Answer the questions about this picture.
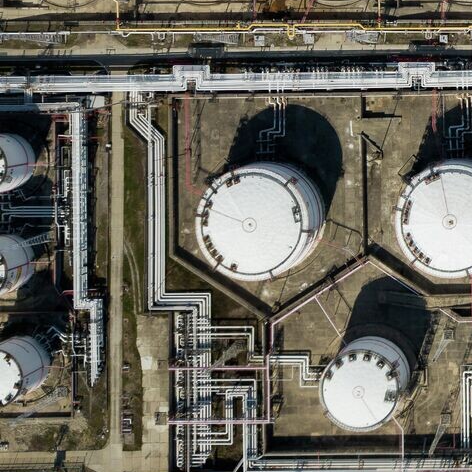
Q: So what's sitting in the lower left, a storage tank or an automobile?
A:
storage tank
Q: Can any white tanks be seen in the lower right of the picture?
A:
Yes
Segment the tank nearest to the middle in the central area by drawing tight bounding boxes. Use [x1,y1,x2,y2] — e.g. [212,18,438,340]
[194,156,330,283]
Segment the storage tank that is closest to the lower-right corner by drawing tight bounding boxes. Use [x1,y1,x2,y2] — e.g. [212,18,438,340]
[320,323,427,430]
